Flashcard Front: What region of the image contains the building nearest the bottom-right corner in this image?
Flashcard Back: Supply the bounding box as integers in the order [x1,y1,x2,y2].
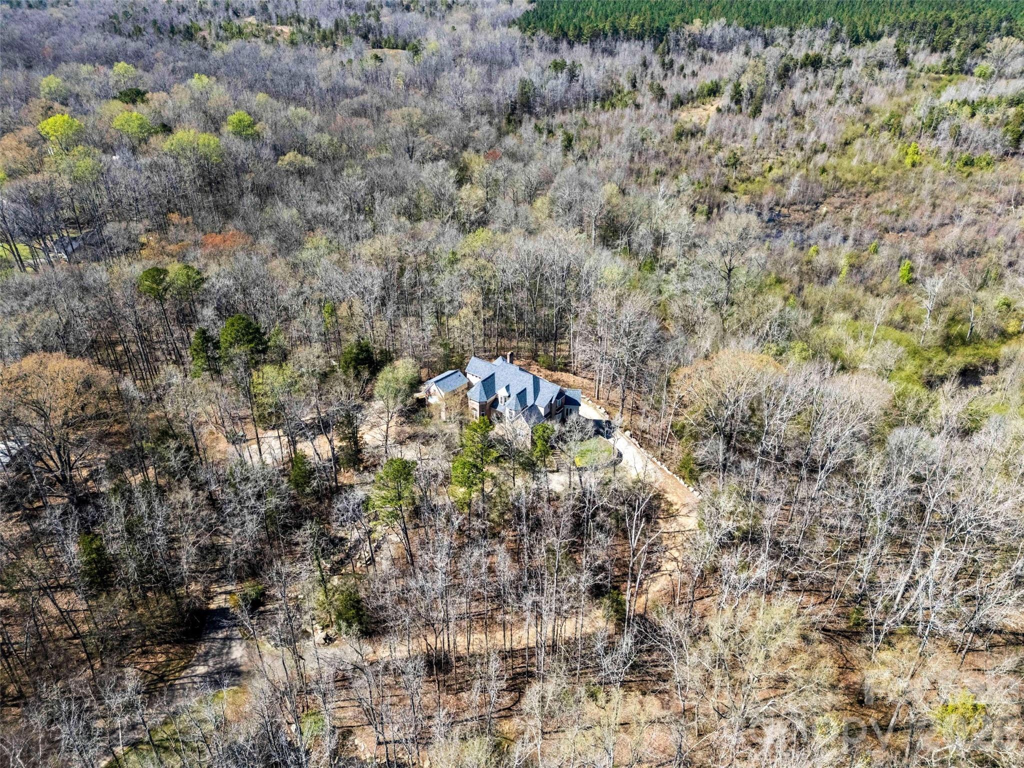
[466,349,581,449]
